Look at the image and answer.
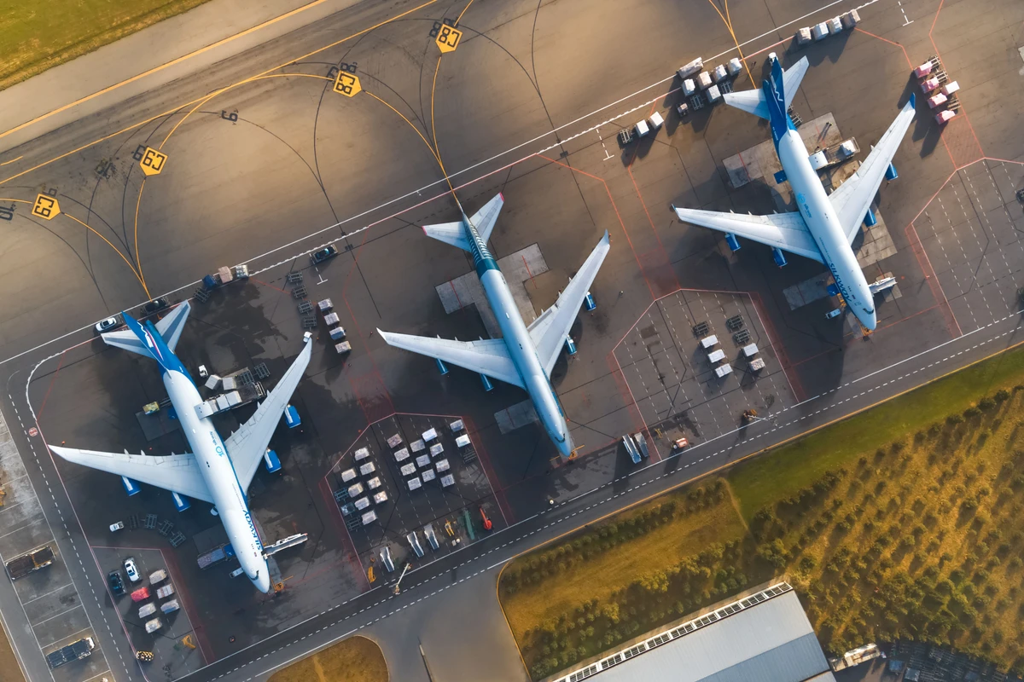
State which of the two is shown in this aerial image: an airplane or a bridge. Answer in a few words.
airplane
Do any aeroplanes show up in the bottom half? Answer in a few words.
Yes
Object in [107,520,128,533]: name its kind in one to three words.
vehicle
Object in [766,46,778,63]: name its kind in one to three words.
vehicle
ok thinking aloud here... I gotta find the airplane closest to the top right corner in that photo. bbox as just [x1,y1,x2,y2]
[668,57,914,329]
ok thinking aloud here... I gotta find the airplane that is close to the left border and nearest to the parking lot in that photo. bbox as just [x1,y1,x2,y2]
[44,299,309,590]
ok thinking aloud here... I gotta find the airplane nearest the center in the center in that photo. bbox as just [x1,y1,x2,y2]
[376,193,611,457]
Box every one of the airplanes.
[44,299,309,590]
[668,57,914,329]
[376,193,611,457]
